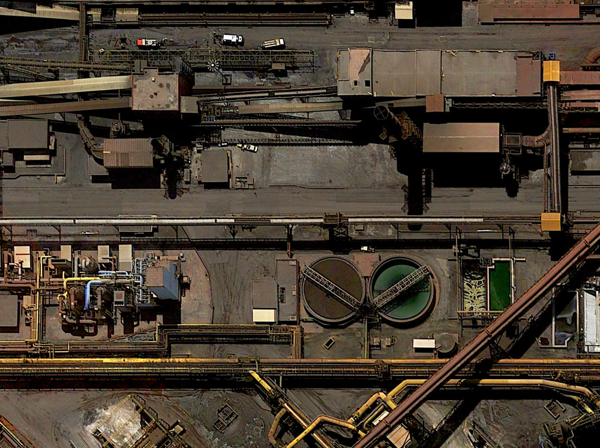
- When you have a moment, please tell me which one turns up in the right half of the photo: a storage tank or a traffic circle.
storage tank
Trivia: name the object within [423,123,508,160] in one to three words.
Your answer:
building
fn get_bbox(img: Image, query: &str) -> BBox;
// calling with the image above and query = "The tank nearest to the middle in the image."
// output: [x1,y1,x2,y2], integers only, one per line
[301,256,367,322]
